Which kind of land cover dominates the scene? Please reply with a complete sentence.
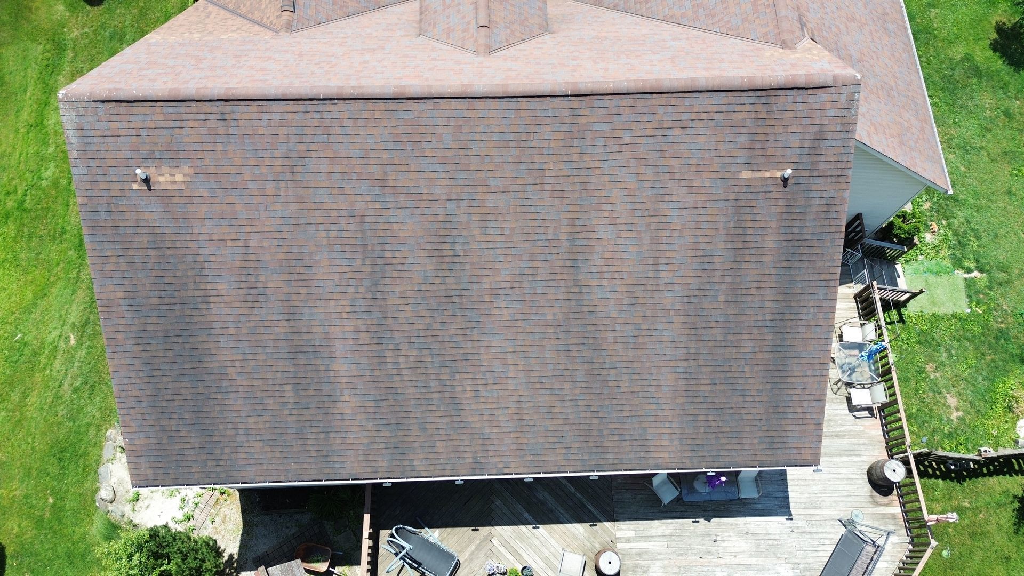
Most of the picture is covered by buildings.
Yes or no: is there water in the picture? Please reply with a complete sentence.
No, no water is visible.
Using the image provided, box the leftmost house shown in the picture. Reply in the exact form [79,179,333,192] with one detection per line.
[58,0,953,494]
